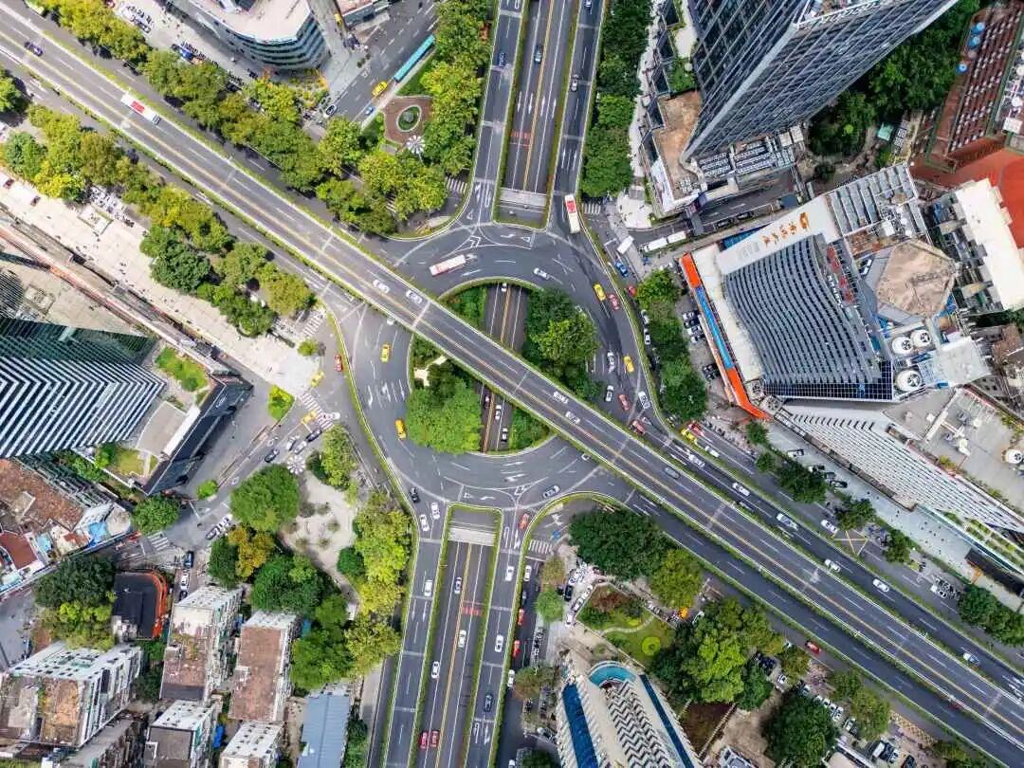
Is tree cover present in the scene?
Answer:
Yes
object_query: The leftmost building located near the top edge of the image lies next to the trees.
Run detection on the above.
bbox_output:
[174,0,329,75]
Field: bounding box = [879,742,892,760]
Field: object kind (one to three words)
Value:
vehicle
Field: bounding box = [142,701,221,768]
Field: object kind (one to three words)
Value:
building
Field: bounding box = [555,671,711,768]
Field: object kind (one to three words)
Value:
building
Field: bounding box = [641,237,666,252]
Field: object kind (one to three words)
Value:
vehicle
